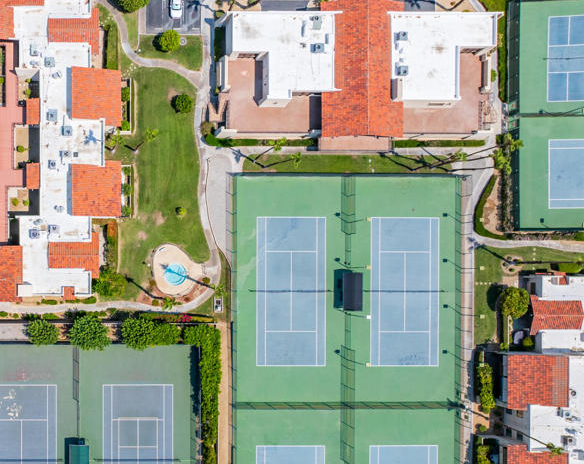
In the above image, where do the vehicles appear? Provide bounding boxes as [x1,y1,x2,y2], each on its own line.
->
[170,0,185,18]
